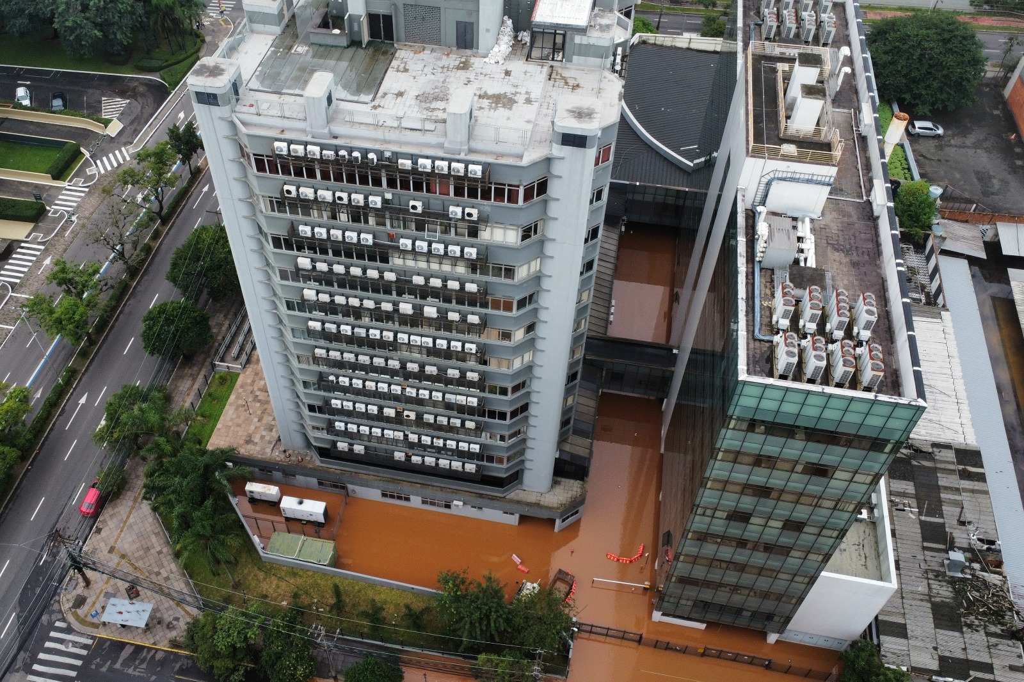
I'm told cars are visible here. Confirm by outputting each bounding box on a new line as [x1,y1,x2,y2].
[907,117,945,137]
[47,90,72,110]
[75,479,109,521]
[11,86,36,104]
